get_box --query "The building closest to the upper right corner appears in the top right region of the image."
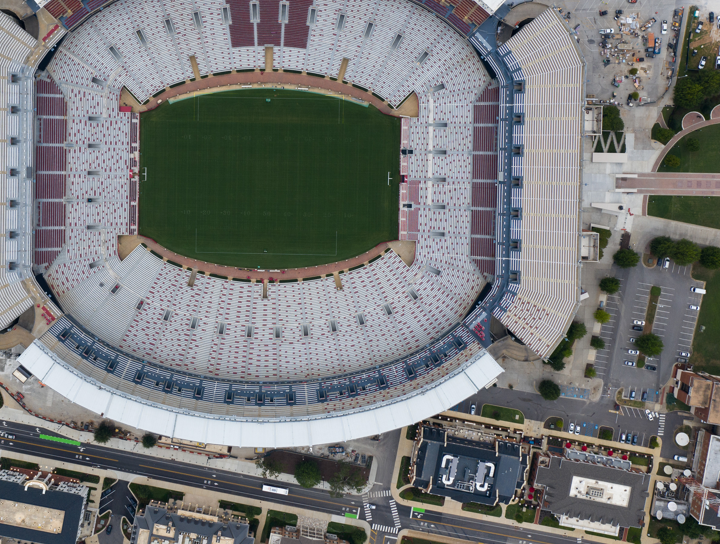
[585,106,604,141]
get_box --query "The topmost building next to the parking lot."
[583,232,600,267]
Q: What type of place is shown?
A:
sports ground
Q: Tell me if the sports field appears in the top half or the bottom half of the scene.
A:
top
